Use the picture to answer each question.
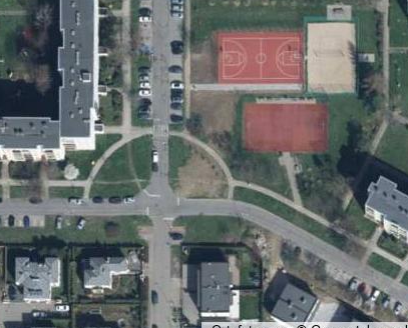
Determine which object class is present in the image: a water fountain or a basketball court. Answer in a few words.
basketball court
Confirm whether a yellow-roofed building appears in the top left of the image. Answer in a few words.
No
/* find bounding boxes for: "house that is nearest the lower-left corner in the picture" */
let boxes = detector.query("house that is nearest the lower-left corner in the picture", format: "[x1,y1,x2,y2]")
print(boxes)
[16,255,60,302]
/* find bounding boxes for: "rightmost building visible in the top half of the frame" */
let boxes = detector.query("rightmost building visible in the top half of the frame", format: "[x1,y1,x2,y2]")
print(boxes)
[58,0,103,148]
